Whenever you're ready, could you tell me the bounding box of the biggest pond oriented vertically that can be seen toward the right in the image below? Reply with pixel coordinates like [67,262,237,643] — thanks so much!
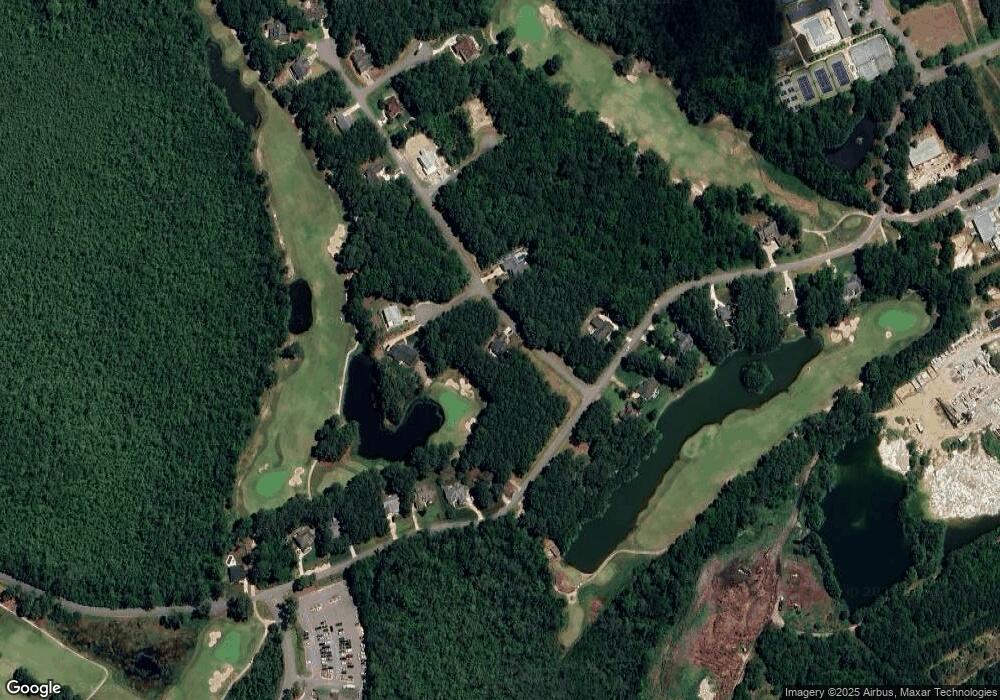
[821,433,908,611]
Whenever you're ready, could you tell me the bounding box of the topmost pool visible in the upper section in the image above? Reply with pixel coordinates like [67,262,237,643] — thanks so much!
[791,9,842,50]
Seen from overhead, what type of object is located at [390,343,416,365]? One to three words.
house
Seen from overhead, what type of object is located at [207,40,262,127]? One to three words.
pond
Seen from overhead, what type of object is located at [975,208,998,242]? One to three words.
building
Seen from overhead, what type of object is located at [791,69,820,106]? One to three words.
tennis court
